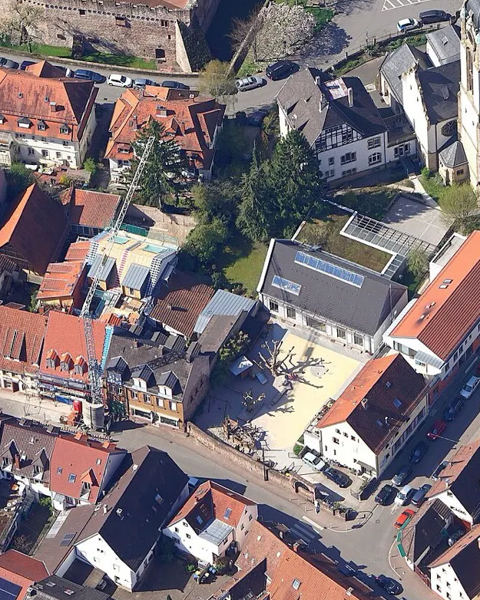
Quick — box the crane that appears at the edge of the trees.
[70,137,152,432]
